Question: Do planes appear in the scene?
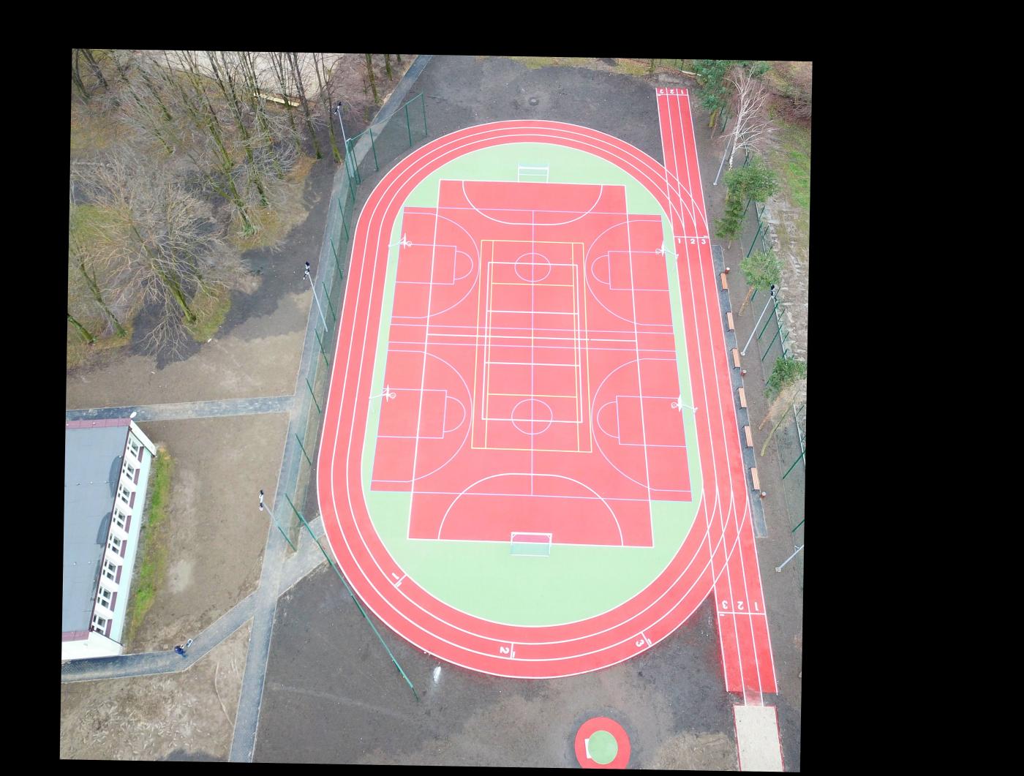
No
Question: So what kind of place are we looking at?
sports ground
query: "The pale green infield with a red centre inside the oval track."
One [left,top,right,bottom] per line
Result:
[362,143,702,625]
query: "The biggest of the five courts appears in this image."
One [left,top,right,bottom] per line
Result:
[407,179,654,547]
